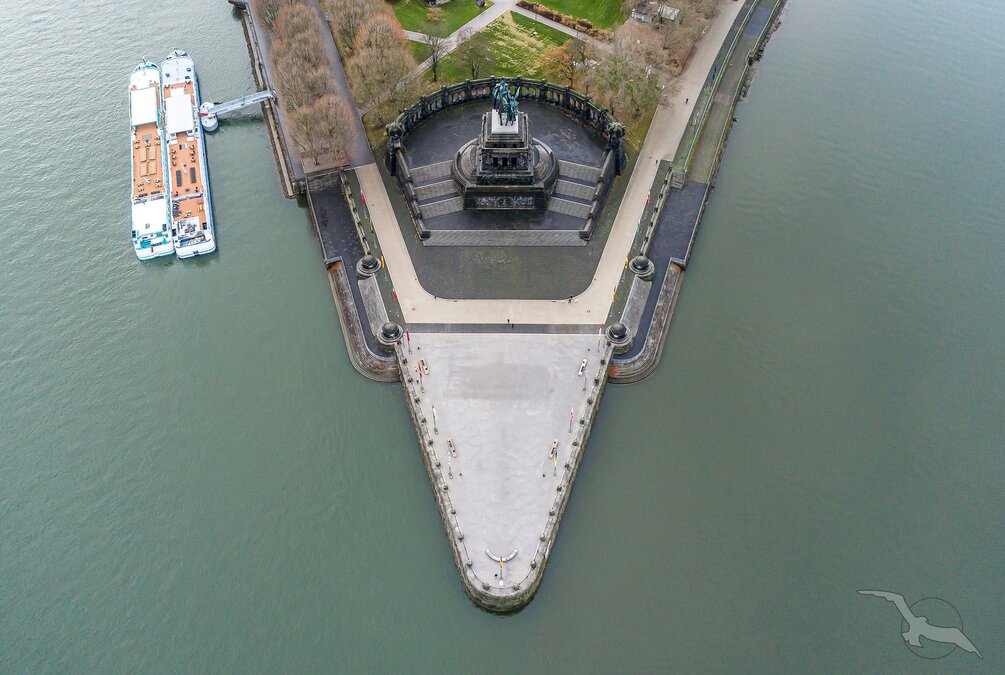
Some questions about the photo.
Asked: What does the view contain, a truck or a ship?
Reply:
ship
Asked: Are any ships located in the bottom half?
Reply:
No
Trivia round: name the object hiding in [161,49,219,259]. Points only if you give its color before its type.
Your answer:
white ship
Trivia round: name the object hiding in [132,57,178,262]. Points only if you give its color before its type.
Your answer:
white ship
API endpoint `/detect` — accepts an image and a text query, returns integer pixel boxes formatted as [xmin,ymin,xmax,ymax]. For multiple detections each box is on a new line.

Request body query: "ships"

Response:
[132,57,178,262]
[161,49,219,259]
